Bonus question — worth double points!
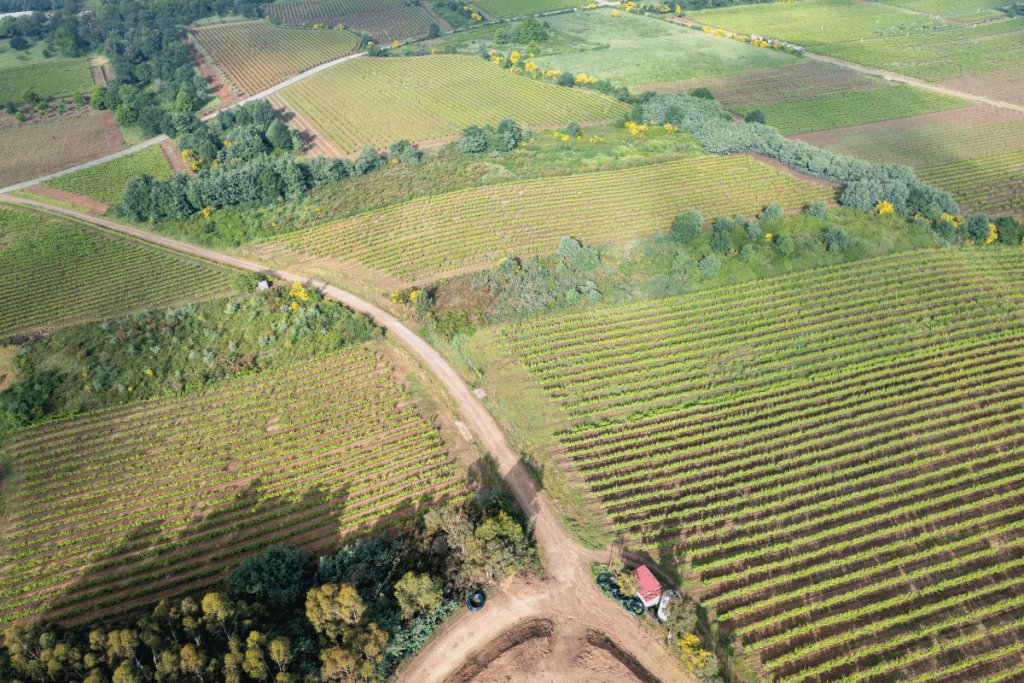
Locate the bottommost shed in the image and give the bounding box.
[630,571,663,607]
